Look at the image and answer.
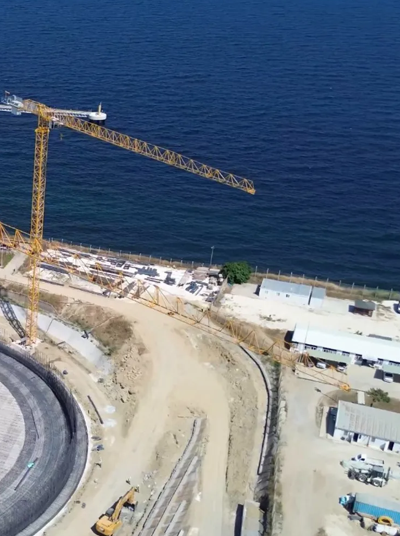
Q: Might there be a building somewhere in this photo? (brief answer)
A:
Yes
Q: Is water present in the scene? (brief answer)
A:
Yes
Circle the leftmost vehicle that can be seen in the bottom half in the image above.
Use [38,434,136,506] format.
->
[93,486,127,536]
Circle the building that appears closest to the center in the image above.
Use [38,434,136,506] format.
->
[260,277,312,306]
